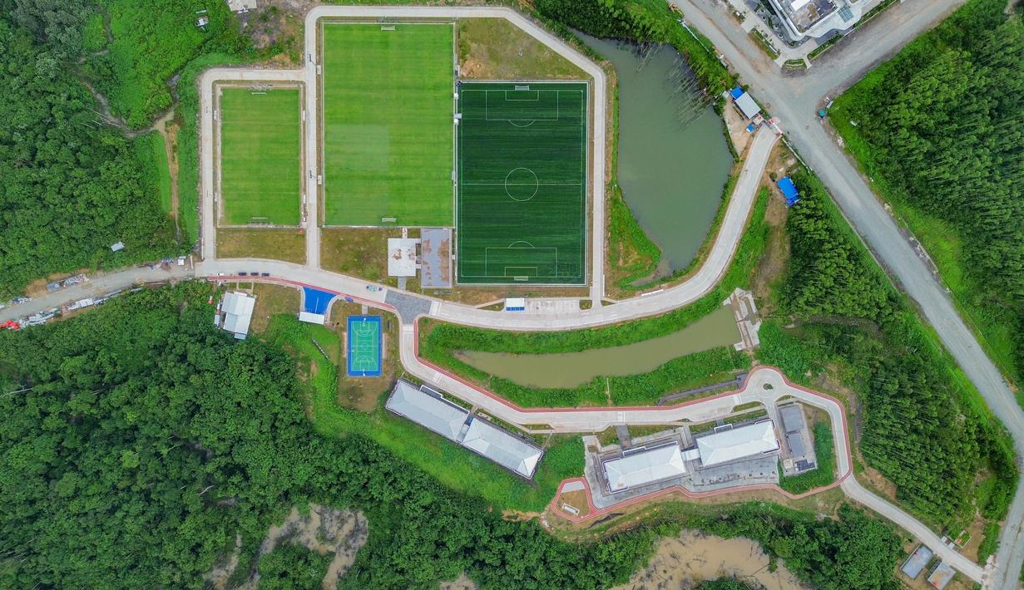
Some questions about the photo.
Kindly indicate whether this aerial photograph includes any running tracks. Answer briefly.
Yes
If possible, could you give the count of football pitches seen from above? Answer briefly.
3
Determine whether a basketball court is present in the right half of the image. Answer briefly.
No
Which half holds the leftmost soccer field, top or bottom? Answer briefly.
top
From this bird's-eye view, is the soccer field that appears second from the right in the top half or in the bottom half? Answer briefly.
top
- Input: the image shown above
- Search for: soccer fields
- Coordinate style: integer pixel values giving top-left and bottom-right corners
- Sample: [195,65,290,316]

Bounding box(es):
[217,84,304,228]
[454,79,591,287]
[323,22,455,227]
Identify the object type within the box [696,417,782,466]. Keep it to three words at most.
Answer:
house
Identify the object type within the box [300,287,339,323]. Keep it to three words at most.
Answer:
sports court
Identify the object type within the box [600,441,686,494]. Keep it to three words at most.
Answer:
house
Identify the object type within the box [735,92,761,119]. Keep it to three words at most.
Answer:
building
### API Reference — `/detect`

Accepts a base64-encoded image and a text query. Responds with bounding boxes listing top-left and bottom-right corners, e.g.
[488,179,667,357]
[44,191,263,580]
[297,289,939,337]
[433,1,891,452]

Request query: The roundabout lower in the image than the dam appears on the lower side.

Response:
[749,370,787,405]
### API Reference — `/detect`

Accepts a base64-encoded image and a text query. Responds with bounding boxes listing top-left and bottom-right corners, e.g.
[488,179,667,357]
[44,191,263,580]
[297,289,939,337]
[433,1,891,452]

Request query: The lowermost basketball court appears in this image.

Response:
[347,315,382,377]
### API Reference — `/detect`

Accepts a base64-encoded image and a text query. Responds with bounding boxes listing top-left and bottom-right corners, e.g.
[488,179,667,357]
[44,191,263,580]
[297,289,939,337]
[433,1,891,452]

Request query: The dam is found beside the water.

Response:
[724,288,760,350]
